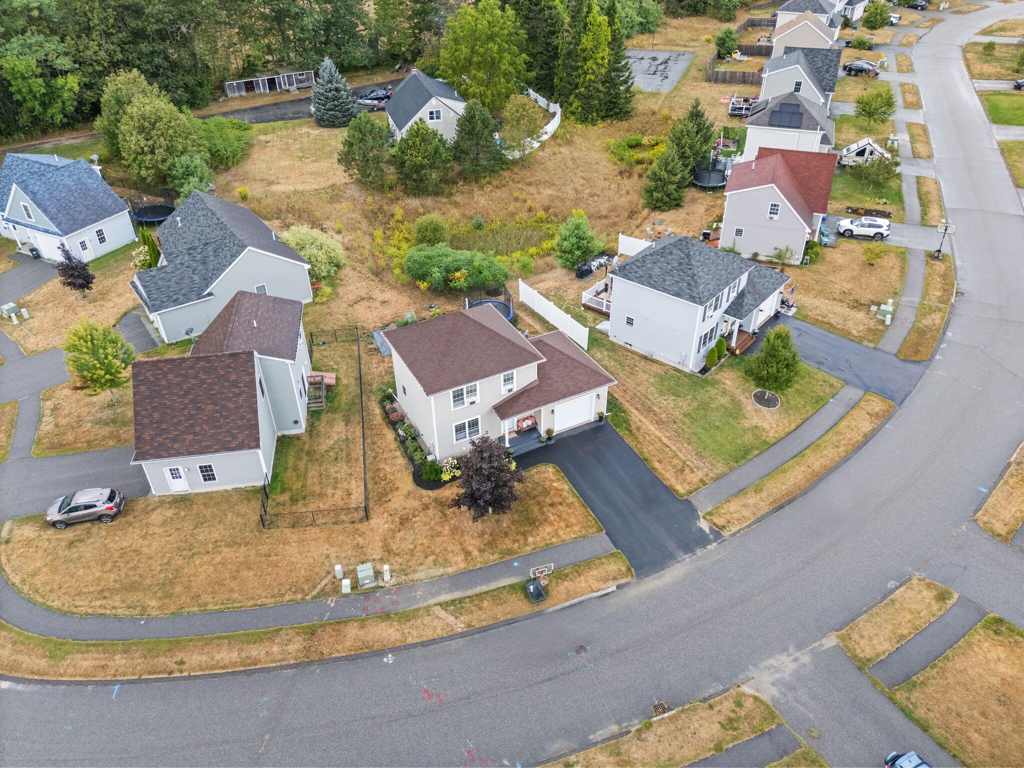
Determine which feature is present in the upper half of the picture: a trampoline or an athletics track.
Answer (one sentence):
Visible in the upper half of the picture is a trampoline.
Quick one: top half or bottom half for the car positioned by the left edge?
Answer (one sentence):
The car positioned by the left edge is in the bottom half of the image.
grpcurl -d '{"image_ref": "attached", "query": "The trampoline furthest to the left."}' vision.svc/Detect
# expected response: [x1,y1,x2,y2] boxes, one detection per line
[126,188,174,228]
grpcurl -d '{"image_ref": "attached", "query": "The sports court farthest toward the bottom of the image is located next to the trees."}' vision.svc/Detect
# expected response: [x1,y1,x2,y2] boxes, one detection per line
[625,50,696,93]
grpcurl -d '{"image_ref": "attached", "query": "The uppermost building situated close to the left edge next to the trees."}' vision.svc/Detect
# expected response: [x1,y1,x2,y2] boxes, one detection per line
[0,152,136,263]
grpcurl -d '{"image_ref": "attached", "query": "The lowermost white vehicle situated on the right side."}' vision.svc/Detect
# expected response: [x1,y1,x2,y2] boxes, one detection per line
[837,216,891,240]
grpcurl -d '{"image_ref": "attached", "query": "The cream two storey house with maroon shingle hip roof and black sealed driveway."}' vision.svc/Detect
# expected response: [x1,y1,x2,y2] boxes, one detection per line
[381,303,618,462]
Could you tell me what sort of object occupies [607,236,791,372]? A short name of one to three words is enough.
house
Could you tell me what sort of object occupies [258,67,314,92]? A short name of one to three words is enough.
shed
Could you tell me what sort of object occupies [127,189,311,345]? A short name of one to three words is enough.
house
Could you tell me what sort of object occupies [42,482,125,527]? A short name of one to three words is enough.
car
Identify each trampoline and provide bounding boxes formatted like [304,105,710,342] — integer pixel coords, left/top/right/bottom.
[126,188,174,228]
[463,284,512,322]
[692,159,729,194]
